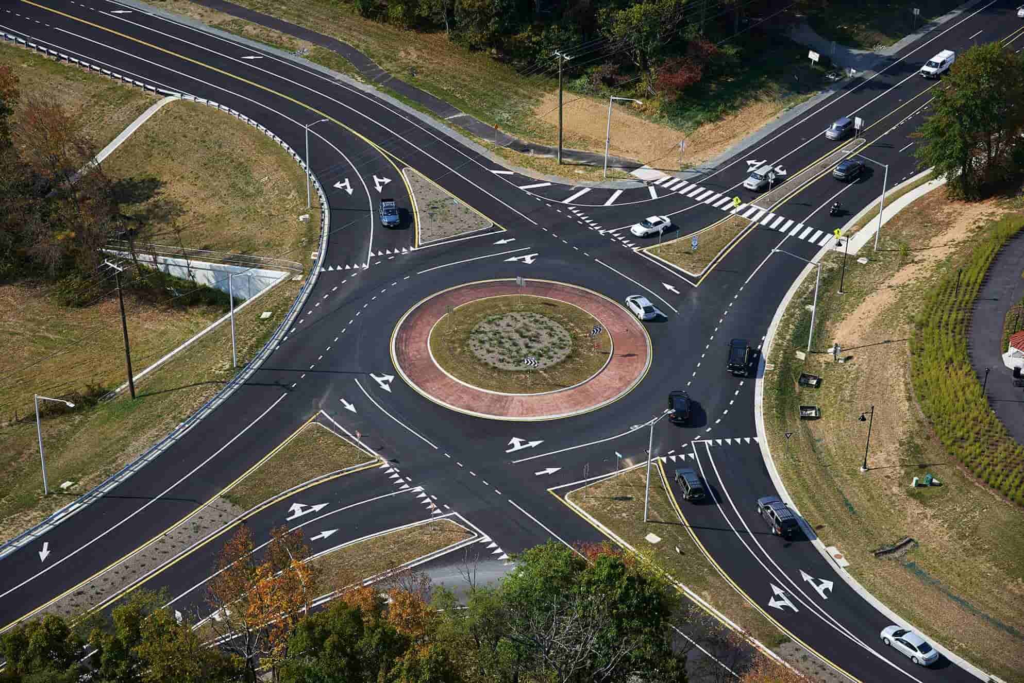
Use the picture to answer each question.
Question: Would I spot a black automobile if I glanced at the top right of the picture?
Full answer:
Yes, I can see a black automobile at the top right of the picture.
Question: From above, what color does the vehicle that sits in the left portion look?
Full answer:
The vehicle that sits in the left portion looks blue in the image.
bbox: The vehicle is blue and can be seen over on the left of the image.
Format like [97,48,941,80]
[380,190,400,222]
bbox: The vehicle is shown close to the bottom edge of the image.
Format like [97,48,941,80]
[878,624,940,667]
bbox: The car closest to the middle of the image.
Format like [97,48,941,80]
[623,294,659,319]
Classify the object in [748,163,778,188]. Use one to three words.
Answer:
car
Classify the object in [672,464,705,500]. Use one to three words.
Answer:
car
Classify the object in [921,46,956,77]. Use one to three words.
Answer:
truck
